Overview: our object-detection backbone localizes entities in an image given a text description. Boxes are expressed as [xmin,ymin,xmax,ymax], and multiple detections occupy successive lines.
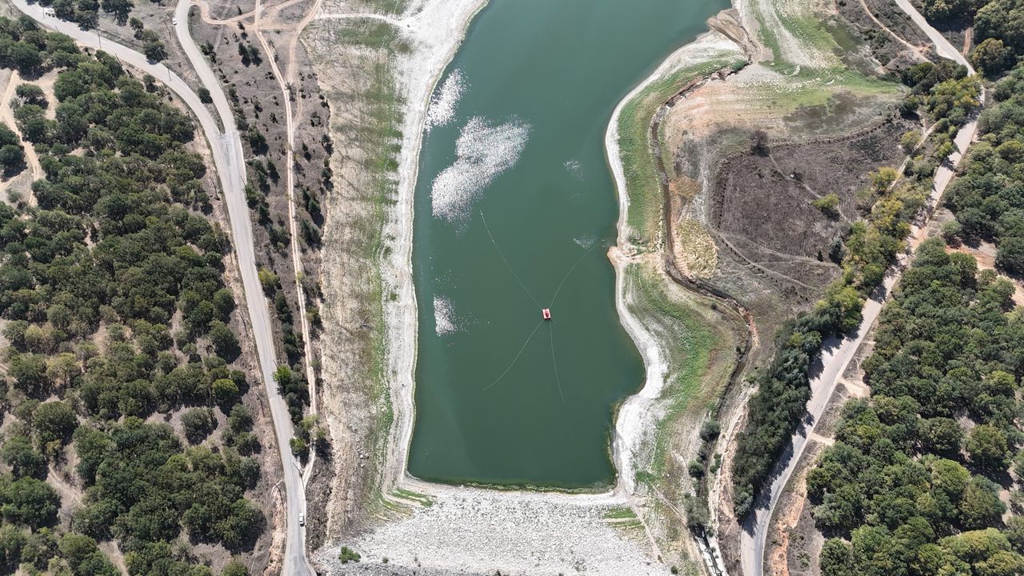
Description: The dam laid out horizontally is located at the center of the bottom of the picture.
[315,484,667,576]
